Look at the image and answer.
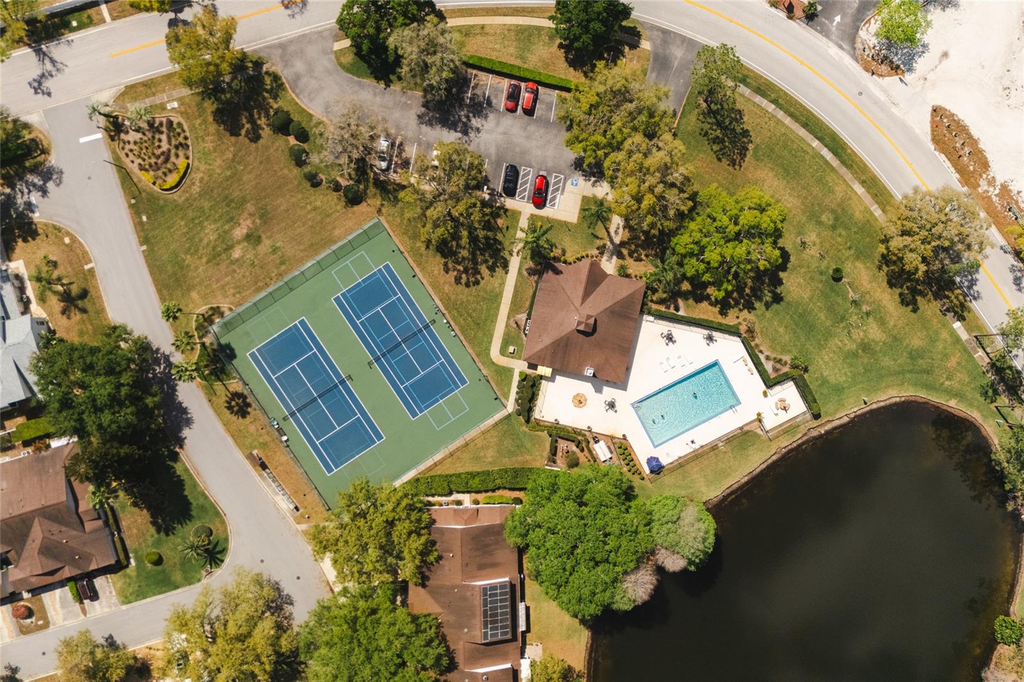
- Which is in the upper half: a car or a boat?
car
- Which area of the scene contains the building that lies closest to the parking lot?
center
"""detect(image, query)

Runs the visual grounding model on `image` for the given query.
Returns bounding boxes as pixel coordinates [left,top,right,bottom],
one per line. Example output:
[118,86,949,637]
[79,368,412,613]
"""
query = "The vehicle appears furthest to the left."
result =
[78,574,100,605]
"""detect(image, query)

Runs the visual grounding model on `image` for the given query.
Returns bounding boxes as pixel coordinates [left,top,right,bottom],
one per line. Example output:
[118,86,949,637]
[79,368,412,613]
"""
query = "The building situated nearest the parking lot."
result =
[523,259,645,383]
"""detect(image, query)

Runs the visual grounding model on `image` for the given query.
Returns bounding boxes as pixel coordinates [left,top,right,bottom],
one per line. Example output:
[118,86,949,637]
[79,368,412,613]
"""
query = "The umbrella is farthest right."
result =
[648,459,666,476]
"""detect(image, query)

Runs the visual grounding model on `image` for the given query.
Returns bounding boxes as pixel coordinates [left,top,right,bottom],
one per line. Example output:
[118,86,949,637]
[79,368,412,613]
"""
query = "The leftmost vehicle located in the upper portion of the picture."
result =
[376,139,391,169]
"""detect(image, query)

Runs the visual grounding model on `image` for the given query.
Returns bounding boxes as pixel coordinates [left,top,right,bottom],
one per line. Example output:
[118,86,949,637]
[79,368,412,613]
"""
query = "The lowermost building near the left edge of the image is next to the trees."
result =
[0,447,119,596]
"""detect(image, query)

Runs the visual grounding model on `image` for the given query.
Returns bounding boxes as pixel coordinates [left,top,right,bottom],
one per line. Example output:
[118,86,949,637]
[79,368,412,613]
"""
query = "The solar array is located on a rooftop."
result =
[482,584,509,641]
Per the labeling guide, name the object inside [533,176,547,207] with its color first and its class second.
red car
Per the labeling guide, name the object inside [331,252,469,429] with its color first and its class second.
blue tennis court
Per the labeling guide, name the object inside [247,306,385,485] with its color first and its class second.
blue tennis court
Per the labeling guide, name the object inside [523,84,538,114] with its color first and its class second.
red car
